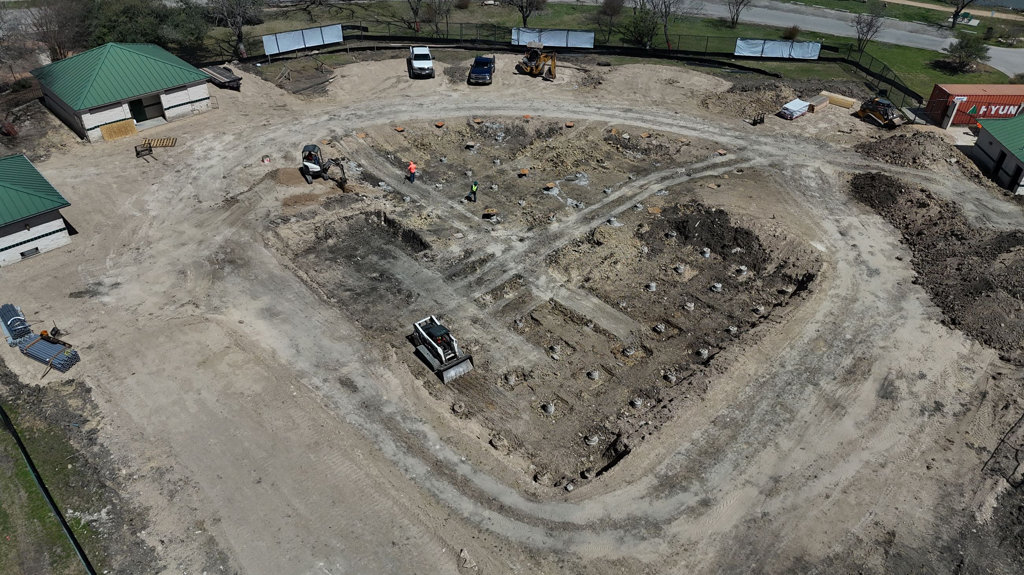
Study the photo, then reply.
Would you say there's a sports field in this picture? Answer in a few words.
No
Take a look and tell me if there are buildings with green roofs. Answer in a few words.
Yes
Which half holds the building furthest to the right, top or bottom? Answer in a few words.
top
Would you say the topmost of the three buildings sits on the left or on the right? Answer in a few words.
left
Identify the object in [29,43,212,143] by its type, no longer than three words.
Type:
building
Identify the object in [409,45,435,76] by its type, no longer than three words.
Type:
truck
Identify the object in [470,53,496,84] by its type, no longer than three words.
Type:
truck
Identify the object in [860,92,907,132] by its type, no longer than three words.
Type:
work vehicle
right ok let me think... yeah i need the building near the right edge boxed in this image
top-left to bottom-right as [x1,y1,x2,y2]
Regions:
[974,118,1024,195]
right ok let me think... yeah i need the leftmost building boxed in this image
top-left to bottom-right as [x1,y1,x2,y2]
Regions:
[0,152,73,268]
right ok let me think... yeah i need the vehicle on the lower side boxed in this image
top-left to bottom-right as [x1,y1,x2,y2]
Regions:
[408,314,475,383]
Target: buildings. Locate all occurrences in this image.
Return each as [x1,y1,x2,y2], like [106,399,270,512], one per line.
[0,152,73,268]
[974,118,1024,195]
[29,43,212,143]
